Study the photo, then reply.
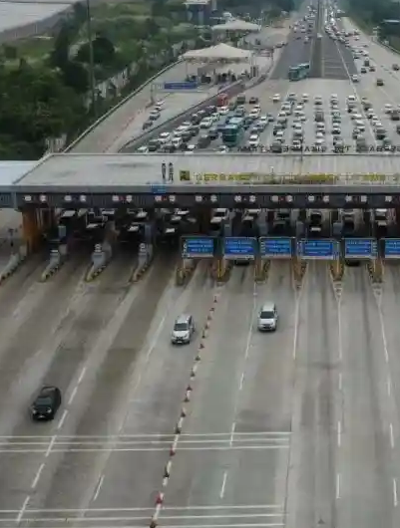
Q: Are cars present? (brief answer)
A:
Yes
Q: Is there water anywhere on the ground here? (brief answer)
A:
No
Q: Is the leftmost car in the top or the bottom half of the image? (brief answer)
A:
bottom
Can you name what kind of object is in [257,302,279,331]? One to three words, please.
car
